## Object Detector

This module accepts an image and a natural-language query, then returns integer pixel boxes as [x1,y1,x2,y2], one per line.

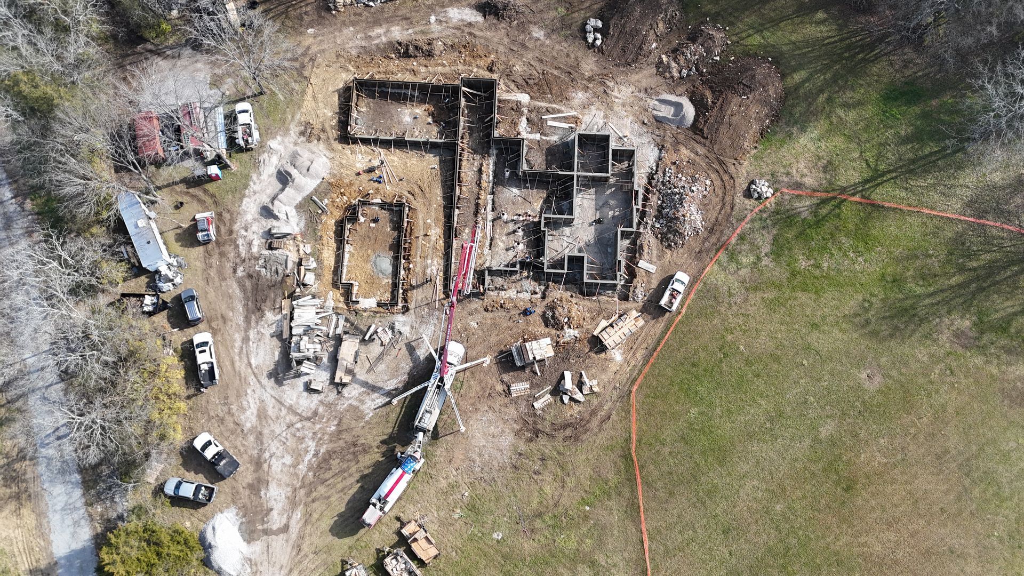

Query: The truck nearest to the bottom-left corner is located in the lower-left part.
[164,475,222,505]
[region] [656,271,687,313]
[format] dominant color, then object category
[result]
white truck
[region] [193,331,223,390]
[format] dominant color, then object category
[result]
white truck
